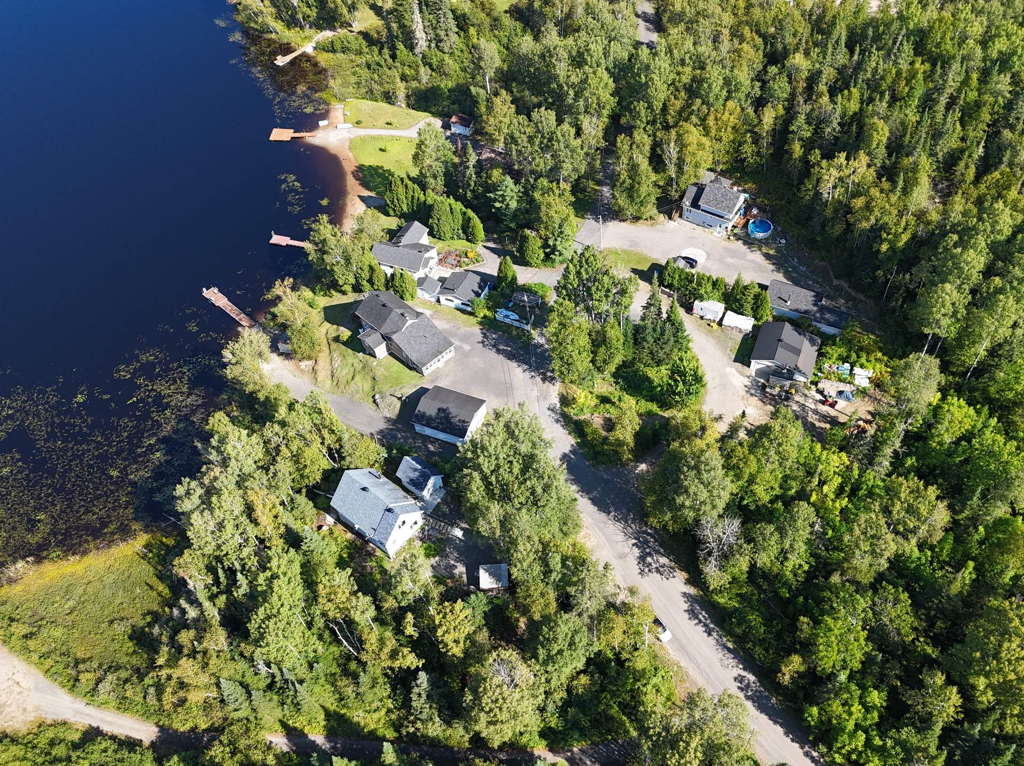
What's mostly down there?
trees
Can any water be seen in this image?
Yes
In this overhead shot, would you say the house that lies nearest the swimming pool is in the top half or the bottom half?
top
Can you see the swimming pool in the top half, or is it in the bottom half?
top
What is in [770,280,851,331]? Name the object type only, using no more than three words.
building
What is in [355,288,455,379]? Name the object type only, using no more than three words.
house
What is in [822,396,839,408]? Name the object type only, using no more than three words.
vehicle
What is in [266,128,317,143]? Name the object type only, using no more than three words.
pier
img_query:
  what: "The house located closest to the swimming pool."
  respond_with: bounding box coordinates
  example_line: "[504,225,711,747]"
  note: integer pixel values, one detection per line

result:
[683,183,747,237]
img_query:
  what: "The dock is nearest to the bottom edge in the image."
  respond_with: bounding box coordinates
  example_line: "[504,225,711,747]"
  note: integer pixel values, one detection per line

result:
[199,285,260,330]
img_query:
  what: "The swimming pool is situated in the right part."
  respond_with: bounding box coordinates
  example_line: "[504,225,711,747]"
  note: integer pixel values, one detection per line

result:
[747,216,773,238]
